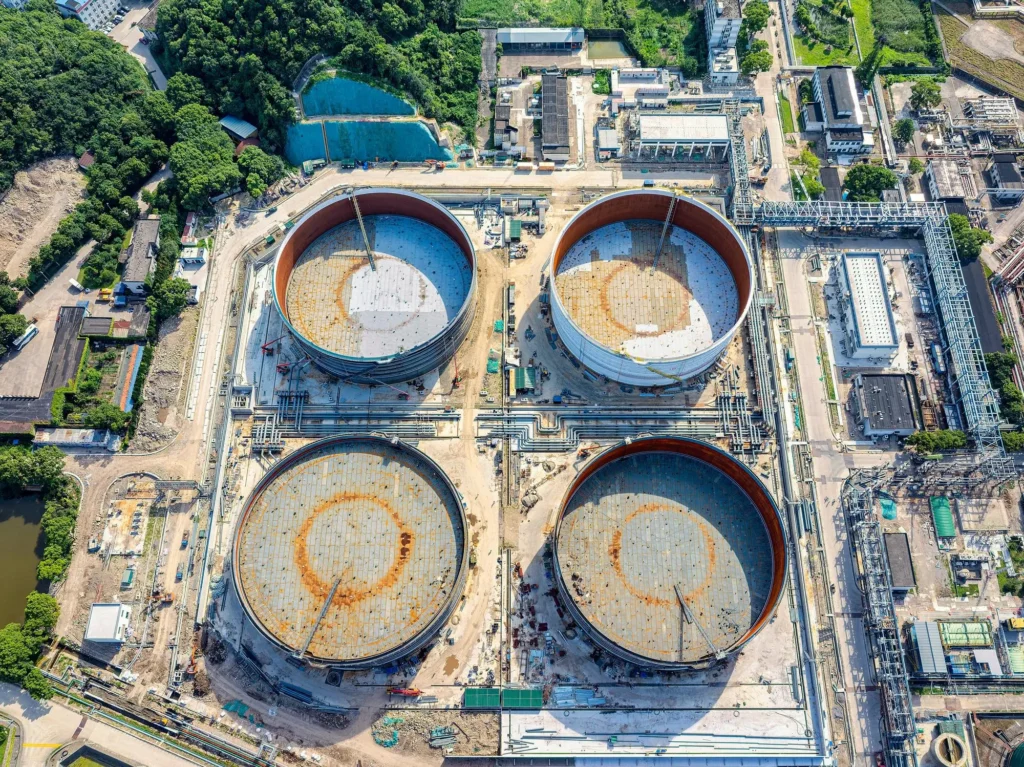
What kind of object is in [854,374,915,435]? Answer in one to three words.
building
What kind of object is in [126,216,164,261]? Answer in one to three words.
house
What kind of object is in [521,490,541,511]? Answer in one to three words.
vehicle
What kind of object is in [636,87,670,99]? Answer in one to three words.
shed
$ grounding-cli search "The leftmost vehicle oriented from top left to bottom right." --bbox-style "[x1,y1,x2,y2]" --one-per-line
[66,275,84,290]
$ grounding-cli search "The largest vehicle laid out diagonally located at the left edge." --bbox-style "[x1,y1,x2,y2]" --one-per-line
[10,320,38,346]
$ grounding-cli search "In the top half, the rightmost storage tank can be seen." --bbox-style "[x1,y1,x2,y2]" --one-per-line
[549,185,754,385]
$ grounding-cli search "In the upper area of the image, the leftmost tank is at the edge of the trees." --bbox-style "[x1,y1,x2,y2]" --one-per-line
[272,182,476,384]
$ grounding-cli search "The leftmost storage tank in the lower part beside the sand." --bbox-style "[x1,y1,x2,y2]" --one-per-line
[232,434,471,674]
